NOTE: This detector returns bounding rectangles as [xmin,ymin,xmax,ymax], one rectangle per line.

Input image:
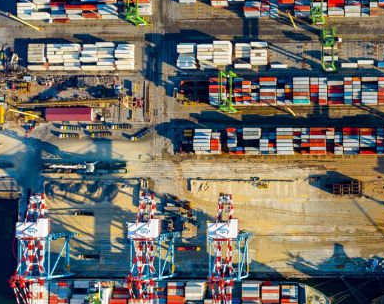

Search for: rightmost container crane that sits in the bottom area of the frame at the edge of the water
[205,194,256,304]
